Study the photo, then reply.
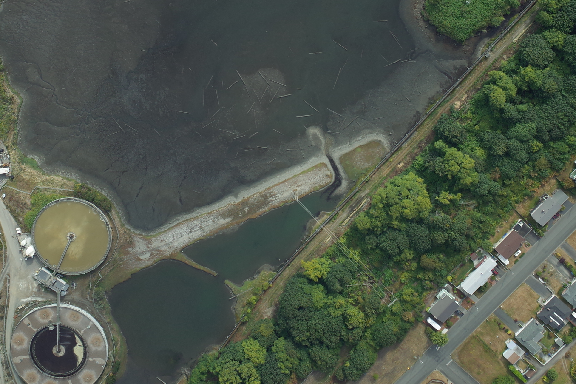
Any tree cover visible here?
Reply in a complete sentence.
Yes, there's tree cover in this view.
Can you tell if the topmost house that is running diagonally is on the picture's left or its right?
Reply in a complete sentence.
The topmost house that is running diagonally sits on the right side.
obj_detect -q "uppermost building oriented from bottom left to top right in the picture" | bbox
[531,189,568,226]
